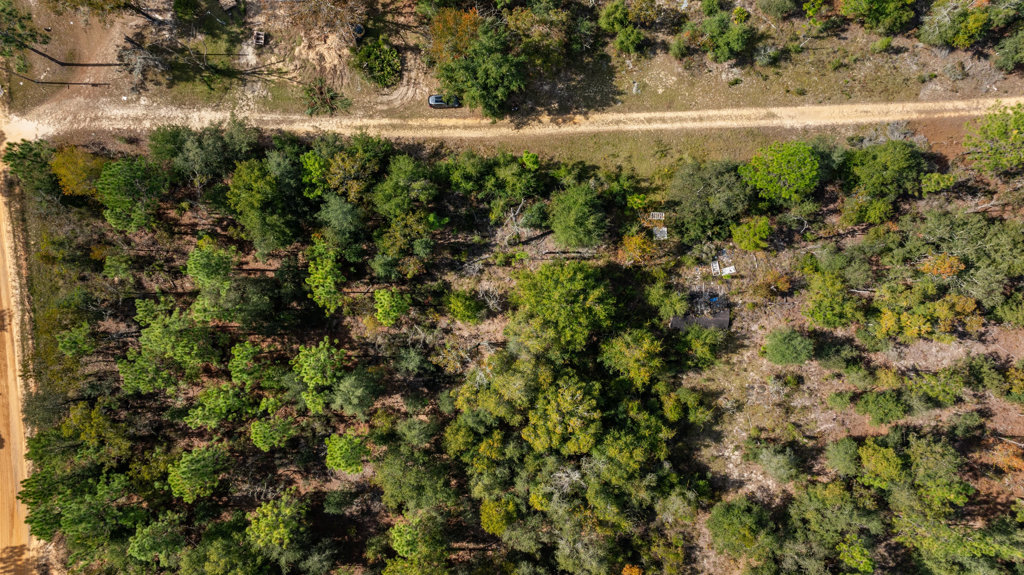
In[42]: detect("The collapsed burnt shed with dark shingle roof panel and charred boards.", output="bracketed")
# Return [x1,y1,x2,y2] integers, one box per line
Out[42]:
[670,282,732,332]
